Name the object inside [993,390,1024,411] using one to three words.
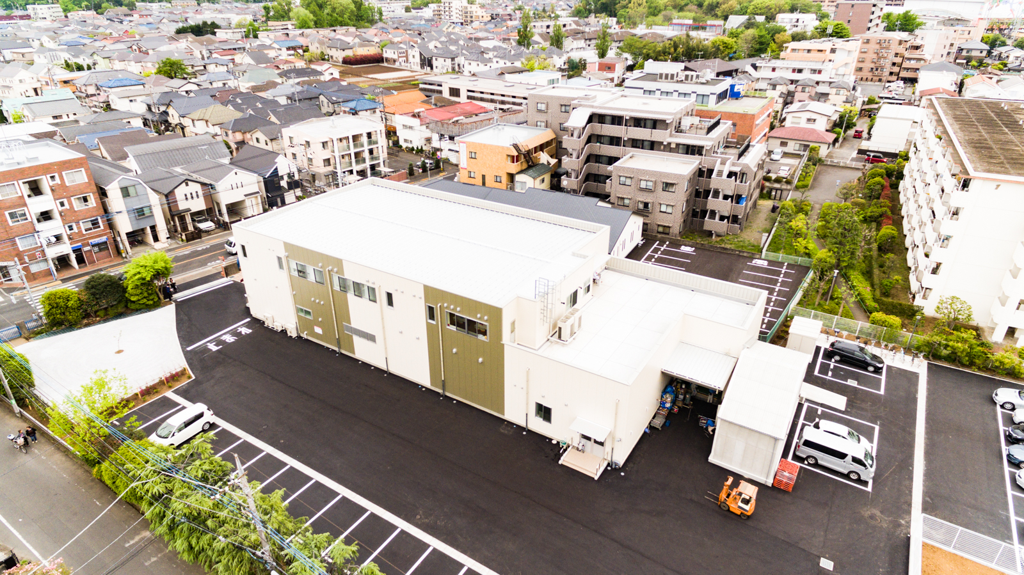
car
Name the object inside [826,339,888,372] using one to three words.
car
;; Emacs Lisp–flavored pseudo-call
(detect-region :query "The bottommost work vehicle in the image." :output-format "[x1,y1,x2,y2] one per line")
[699,476,761,521]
